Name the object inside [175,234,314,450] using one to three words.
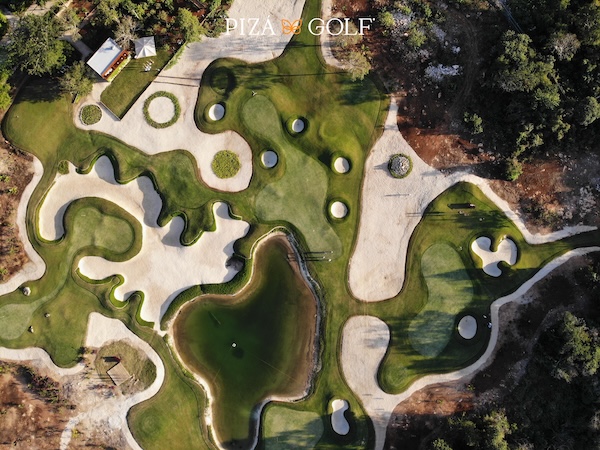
pond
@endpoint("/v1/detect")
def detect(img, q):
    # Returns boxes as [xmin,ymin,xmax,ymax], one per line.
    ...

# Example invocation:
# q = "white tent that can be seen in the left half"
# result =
[134,37,159,61]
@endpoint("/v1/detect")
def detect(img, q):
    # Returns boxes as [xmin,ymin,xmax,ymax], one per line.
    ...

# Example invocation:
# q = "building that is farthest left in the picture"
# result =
[84,36,131,83]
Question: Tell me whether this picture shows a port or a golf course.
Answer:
golf course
